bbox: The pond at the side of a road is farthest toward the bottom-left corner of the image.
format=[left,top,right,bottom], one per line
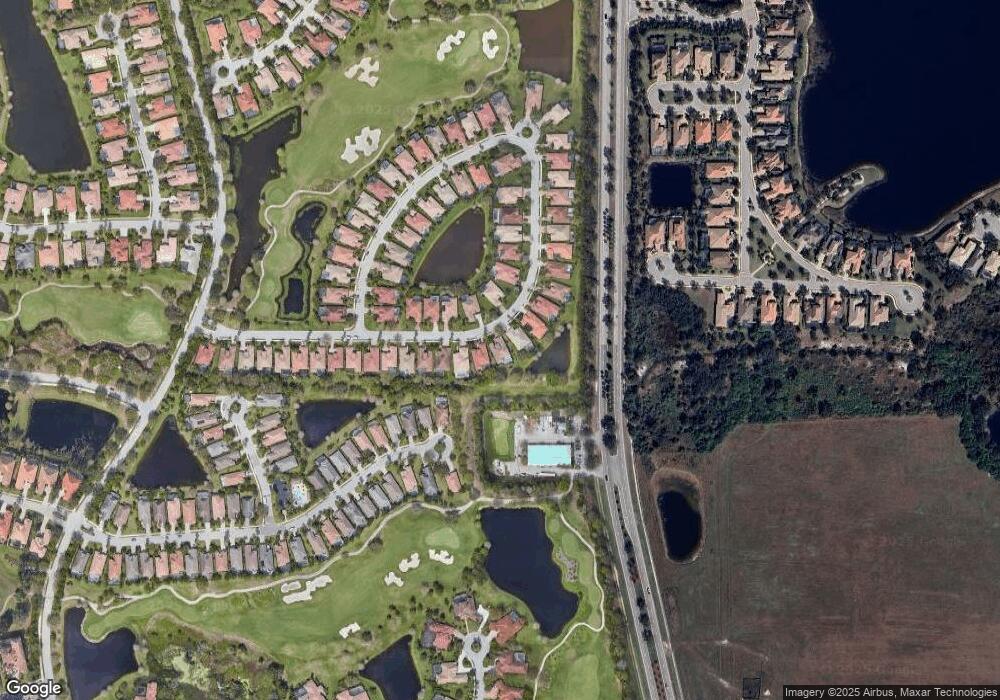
[62,607,138,700]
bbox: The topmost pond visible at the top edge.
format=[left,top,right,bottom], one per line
[515,0,575,83]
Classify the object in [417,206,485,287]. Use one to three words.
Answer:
pond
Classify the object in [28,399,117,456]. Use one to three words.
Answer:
pond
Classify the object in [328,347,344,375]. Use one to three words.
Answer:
house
